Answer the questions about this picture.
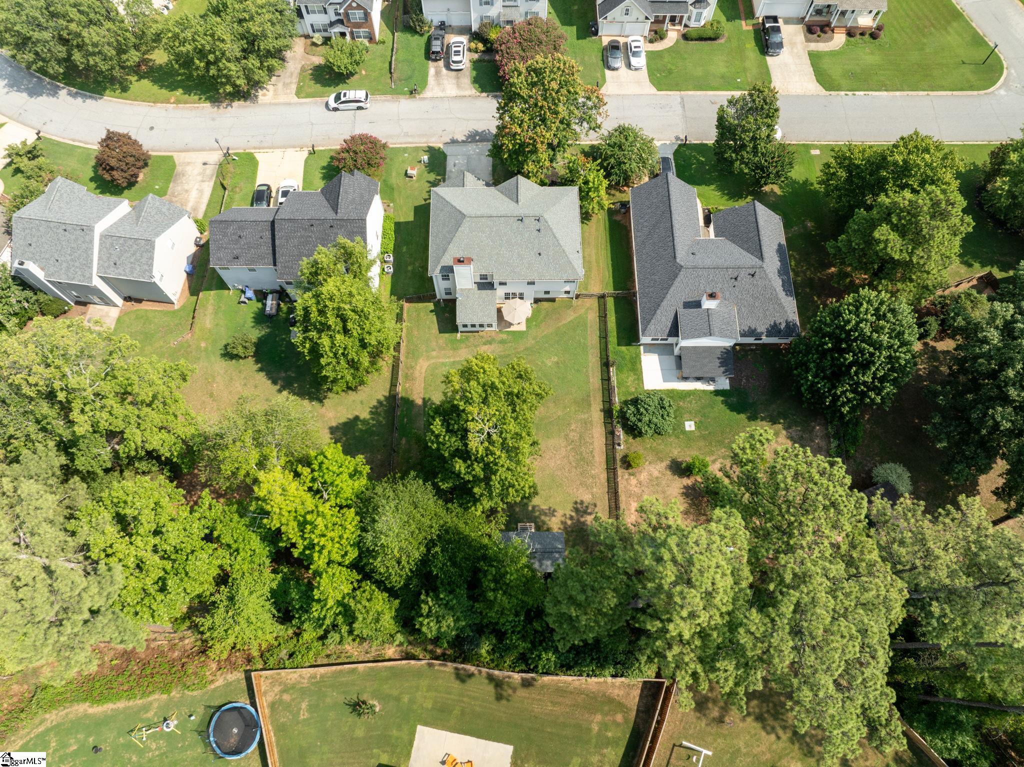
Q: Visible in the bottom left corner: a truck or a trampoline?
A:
trampoline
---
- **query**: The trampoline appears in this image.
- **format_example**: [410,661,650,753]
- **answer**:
[199,700,262,763]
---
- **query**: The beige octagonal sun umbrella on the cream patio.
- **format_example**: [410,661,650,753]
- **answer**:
[500,299,531,328]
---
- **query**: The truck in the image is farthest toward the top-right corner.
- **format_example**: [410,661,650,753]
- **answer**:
[761,14,785,56]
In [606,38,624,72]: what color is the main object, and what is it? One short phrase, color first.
gray car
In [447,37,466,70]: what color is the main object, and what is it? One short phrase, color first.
white car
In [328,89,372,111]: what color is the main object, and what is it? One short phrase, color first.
white car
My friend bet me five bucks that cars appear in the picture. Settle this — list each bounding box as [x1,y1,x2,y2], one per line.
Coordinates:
[428,29,445,60]
[328,89,372,111]
[447,37,466,70]
[250,180,273,206]
[627,36,648,71]
[606,38,624,72]
[277,180,298,206]
[658,154,677,179]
